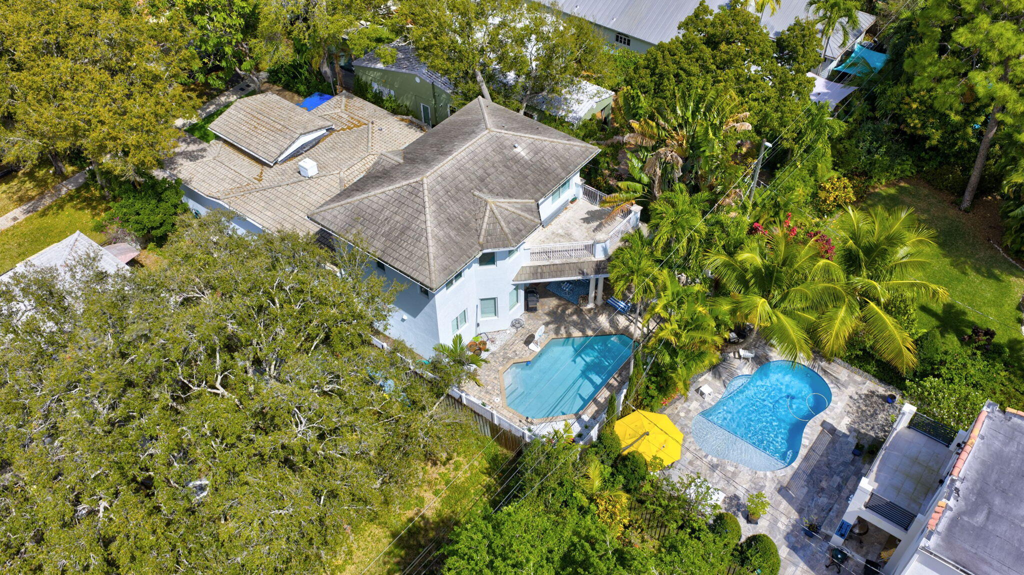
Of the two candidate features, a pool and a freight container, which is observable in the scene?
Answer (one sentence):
Looking from above, you can make out a pool.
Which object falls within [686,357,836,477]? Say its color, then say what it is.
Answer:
blue swimming pool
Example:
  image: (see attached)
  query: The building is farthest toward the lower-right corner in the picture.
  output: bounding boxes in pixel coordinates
[863,396,1024,575]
